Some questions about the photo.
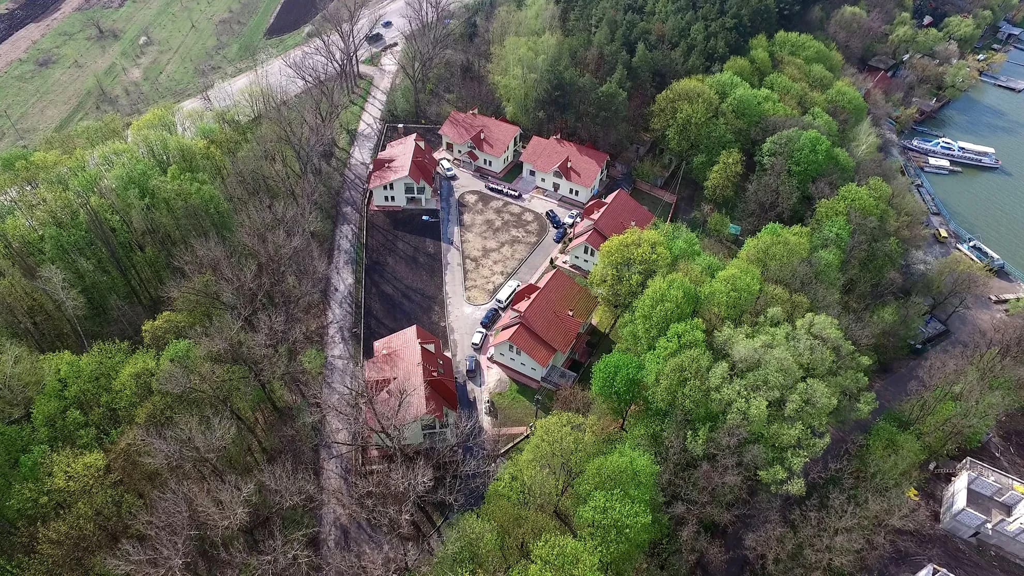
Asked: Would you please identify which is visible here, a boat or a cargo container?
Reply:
boat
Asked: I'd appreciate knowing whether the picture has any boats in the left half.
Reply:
No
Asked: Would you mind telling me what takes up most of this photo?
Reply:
trees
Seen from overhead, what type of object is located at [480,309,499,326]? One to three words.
car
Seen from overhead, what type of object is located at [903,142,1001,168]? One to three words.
boat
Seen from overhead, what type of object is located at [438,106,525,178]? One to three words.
house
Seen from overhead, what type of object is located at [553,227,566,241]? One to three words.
vehicle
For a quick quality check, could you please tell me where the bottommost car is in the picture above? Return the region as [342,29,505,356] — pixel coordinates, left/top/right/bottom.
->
[466,356,478,376]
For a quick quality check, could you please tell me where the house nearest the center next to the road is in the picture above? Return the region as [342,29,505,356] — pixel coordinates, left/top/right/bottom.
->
[486,269,600,390]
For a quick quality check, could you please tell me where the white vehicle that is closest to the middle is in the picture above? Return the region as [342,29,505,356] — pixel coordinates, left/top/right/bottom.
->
[496,282,519,307]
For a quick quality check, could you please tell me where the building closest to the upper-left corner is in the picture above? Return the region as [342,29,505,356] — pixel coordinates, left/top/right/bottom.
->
[367,133,438,209]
